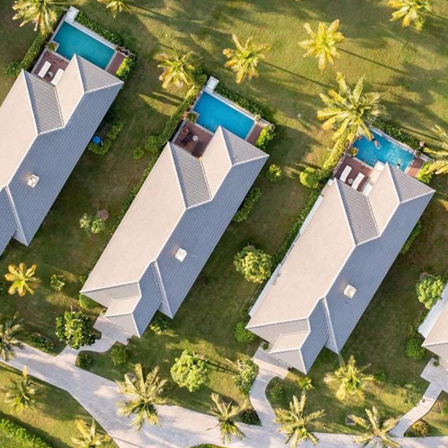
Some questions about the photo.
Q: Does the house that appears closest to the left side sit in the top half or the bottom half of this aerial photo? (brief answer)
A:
top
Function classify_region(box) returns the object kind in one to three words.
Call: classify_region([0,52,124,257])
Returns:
house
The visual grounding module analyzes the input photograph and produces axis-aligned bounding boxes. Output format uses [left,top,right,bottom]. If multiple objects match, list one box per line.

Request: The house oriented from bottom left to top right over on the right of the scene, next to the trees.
[245,160,436,373]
